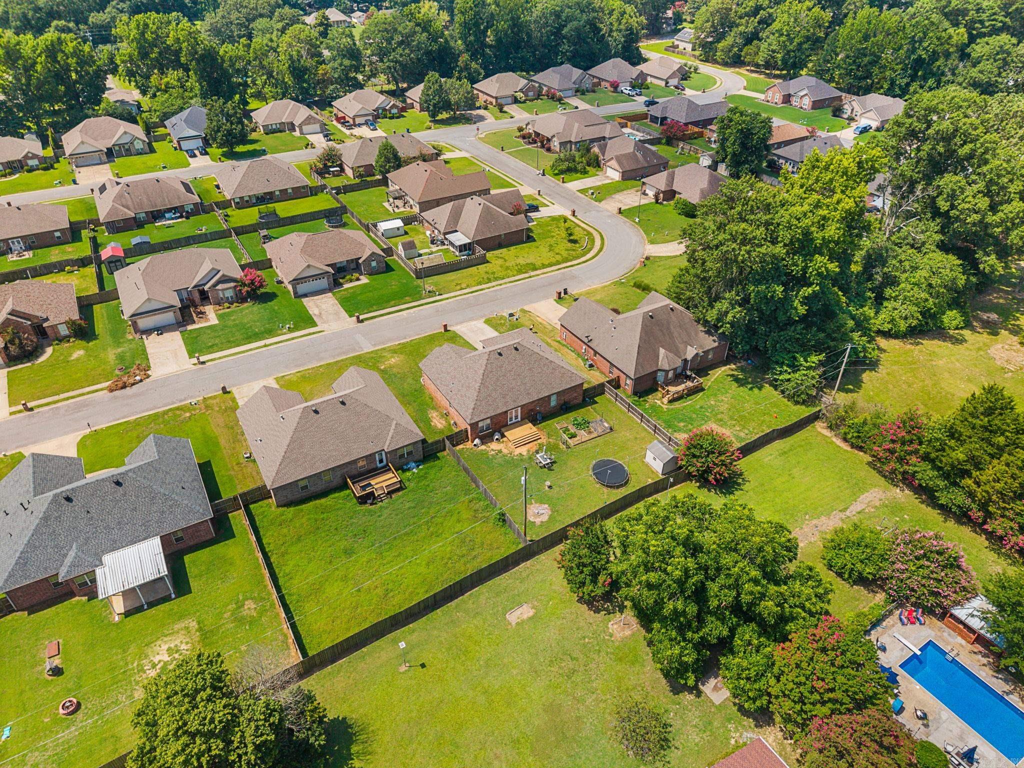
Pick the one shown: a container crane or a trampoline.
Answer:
trampoline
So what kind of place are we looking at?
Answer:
residential area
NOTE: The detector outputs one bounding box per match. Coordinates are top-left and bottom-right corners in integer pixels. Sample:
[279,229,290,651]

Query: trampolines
[256,203,281,222]
[323,207,345,224]
[590,448,631,493]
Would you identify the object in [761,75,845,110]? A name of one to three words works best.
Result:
house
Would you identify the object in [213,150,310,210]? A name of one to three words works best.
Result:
house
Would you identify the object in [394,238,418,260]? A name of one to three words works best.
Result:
shed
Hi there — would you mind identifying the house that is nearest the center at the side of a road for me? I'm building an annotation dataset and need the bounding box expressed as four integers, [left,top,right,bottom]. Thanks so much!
[418,323,587,437]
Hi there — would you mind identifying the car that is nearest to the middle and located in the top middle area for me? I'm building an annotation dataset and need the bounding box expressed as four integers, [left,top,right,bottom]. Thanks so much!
[524,201,544,213]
